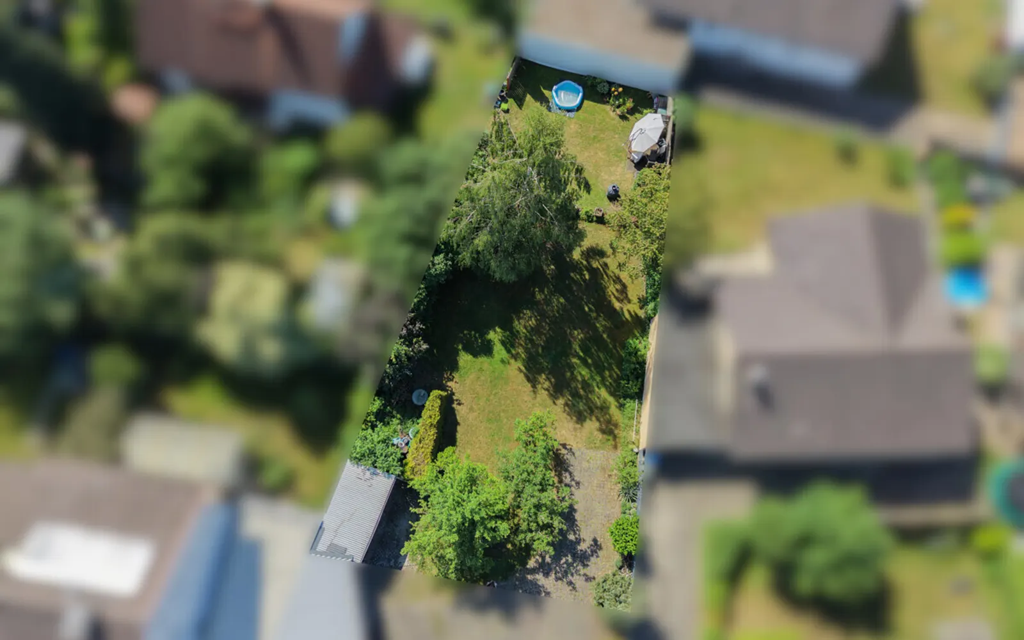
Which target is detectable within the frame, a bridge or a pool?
pool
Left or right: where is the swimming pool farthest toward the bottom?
right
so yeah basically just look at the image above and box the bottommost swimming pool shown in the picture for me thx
[936,264,987,309]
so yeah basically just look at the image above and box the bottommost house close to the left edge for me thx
[0,455,238,640]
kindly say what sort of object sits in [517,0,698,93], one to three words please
shed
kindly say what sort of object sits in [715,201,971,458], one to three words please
house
